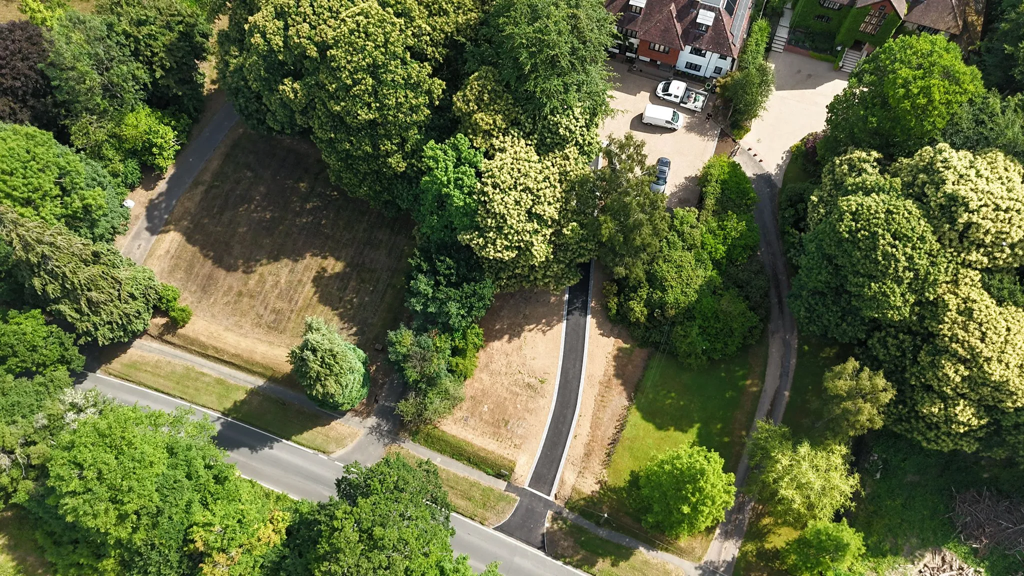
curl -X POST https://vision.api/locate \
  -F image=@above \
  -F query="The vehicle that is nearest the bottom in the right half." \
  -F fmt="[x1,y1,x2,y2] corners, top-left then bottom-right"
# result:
[652,152,674,189]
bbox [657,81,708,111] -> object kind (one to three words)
truck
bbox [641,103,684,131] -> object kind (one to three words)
van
